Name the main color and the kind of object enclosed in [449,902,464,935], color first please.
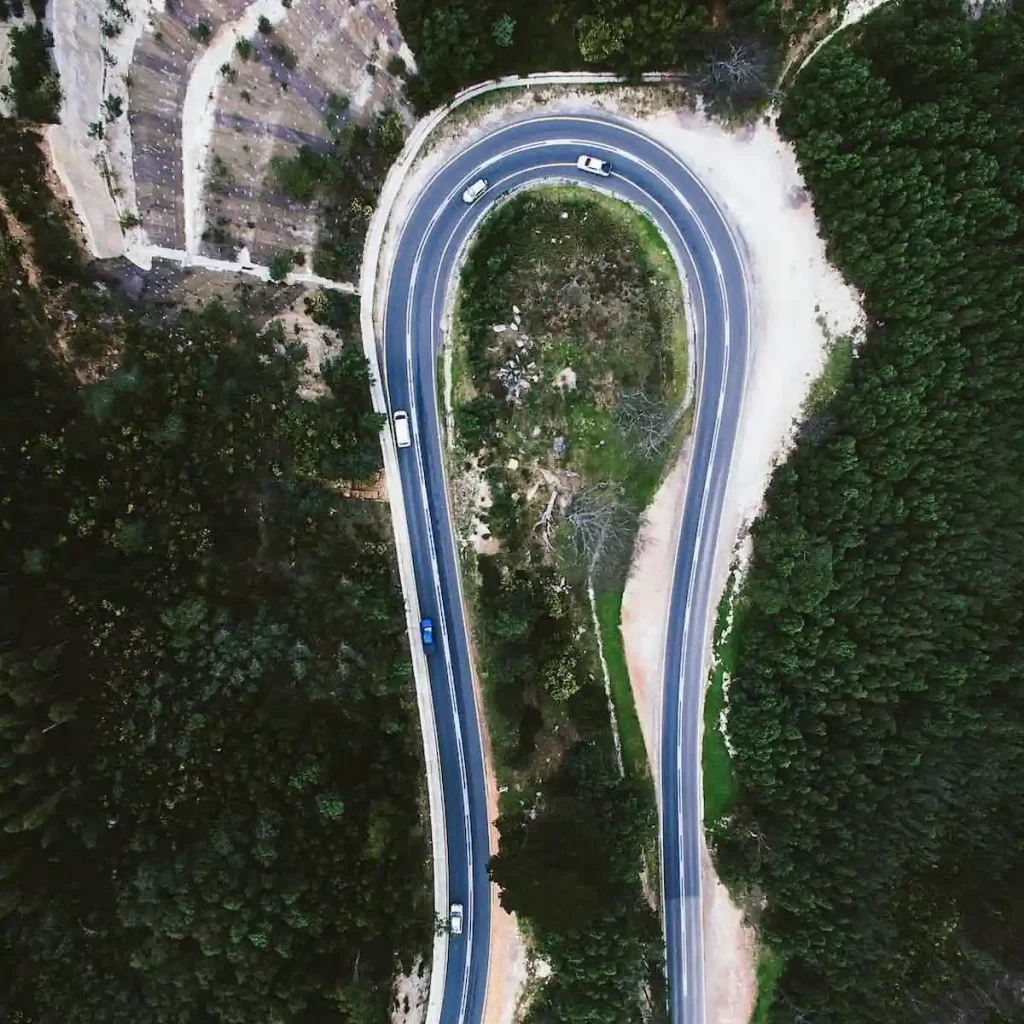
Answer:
white car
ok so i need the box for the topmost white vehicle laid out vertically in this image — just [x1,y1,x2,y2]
[392,410,411,448]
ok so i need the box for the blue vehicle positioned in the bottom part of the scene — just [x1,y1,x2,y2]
[420,619,436,652]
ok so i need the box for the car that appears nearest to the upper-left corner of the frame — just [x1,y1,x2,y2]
[462,177,489,203]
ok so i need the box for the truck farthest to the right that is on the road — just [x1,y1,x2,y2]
[575,154,613,175]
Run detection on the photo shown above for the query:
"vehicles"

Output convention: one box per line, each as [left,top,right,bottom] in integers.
[449,902,464,935]
[420,619,436,652]
[392,410,411,448]
[462,177,489,203]
[575,154,613,175]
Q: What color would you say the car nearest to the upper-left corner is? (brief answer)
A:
white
